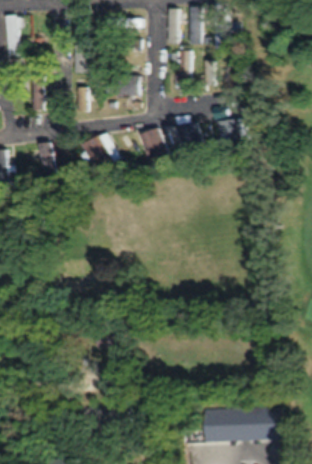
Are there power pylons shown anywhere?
No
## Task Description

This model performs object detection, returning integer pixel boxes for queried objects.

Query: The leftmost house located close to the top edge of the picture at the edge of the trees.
[4,14,24,50]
